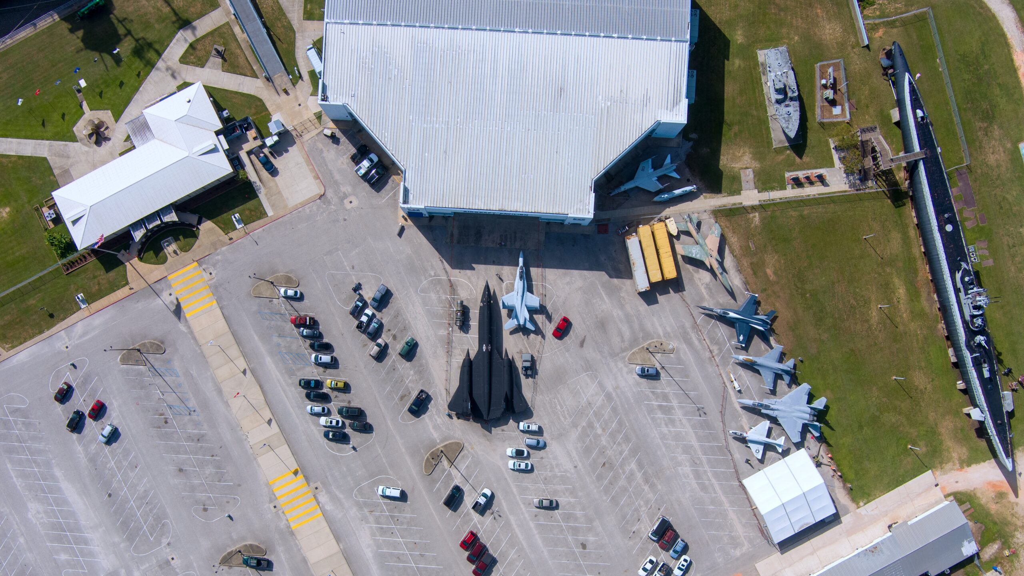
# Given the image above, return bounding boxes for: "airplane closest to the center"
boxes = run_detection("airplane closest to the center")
[501,250,540,330]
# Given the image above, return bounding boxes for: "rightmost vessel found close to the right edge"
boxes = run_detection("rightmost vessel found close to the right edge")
[880,39,1024,472]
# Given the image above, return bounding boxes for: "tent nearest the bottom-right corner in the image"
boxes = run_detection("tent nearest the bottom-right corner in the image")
[737,446,837,544]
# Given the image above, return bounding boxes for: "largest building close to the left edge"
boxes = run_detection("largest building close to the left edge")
[51,81,235,259]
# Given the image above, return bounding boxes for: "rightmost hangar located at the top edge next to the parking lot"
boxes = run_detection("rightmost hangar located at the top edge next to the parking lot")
[318,0,693,227]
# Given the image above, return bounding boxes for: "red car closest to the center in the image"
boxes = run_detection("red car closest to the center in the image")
[553,316,570,338]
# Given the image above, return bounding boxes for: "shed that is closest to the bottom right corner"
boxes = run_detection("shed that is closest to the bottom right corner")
[801,498,979,576]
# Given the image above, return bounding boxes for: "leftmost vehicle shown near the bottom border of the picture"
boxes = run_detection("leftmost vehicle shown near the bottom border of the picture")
[243,556,272,569]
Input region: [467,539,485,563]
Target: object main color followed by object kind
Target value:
red car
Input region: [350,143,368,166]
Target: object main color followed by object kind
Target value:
black car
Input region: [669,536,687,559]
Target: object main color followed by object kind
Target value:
blue car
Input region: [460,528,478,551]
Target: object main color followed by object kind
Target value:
red car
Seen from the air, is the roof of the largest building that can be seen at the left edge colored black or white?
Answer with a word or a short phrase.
white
